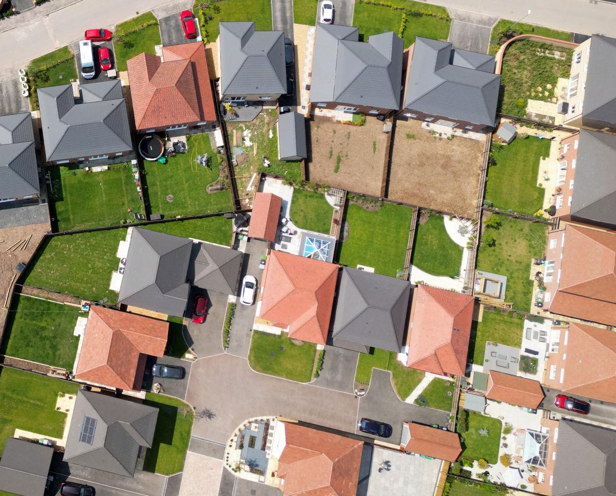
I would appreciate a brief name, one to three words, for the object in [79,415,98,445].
solar panel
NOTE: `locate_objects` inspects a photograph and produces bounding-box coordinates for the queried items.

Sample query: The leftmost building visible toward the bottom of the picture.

[0,437,55,496]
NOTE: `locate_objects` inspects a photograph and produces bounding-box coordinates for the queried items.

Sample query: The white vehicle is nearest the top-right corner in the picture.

[320,0,334,25]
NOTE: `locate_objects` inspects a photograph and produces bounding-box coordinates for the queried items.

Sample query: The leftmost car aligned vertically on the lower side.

[192,295,207,325]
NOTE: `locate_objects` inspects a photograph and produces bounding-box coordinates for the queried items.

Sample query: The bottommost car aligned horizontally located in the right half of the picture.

[356,418,392,438]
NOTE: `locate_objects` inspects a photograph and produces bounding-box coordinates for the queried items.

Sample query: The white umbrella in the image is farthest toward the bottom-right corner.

[498,463,522,491]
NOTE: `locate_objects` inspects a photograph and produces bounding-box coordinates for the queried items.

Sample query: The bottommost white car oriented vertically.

[240,275,257,306]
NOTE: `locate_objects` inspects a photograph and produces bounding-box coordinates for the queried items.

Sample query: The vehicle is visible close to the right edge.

[554,395,591,417]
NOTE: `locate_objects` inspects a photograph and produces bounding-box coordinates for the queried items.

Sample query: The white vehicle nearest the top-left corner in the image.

[78,37,96,81]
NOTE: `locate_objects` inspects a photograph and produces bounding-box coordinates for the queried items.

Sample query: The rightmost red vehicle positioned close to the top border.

[180,11,197,40]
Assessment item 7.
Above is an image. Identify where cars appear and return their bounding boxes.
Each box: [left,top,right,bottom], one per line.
[240,275,257,306]
[180,11,197,40]
[85,28,112,42]
[554,395,591,417]
[192,295,207,325]
[60,482,96,496]
[320,0,334,25]
[284,38,298,67]
[356,418,392,438]
[152,360,185,378]
[98,46,112,72]
[284,71,297,98]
